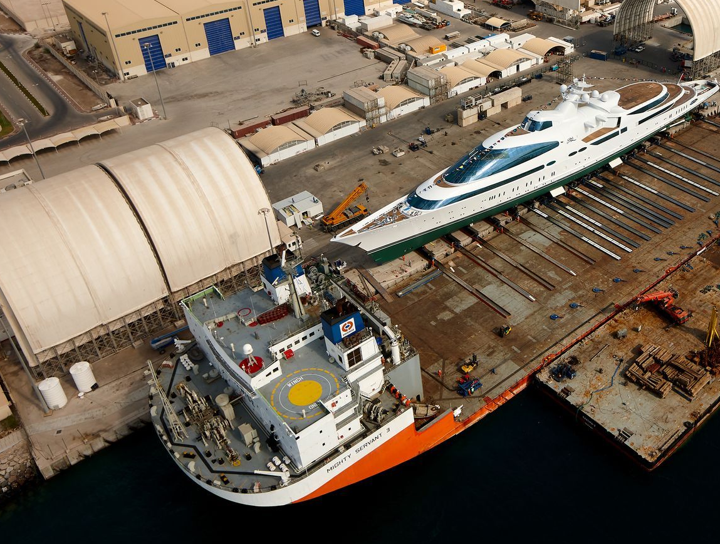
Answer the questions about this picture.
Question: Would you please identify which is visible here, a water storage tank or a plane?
water storage tank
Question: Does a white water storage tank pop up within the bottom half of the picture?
Yes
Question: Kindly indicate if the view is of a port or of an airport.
port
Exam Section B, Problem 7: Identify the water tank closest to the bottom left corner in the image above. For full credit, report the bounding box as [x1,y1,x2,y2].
[28,374,63,410]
